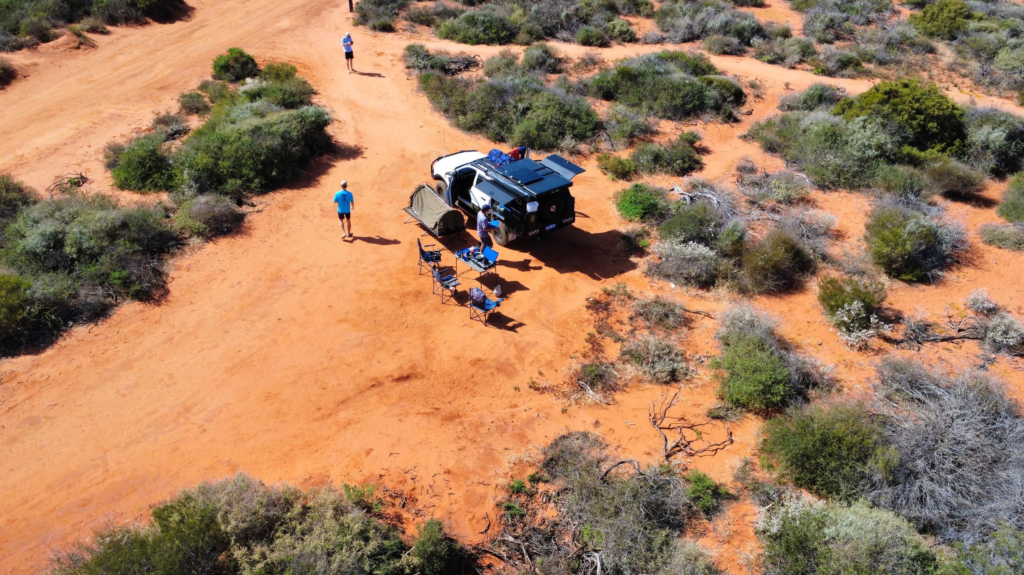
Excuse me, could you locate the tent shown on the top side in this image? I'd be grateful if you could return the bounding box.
[402,180,466,247]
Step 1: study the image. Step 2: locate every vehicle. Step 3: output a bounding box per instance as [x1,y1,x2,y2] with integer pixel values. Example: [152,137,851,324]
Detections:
[429,127,584,249]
